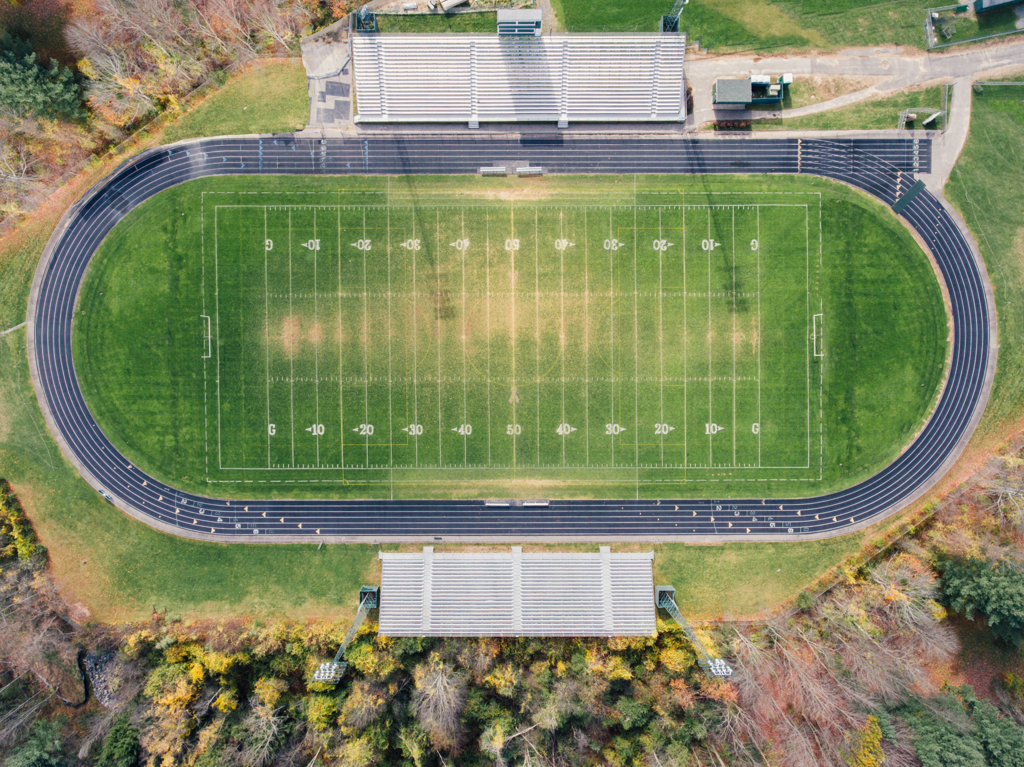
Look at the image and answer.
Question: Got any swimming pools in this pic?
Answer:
No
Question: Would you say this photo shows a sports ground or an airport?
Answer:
sports ground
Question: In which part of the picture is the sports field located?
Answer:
center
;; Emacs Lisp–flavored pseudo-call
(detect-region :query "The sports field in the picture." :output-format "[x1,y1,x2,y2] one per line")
[71,174,954,500]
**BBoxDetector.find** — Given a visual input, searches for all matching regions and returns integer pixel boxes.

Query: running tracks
[35,138,990,536]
